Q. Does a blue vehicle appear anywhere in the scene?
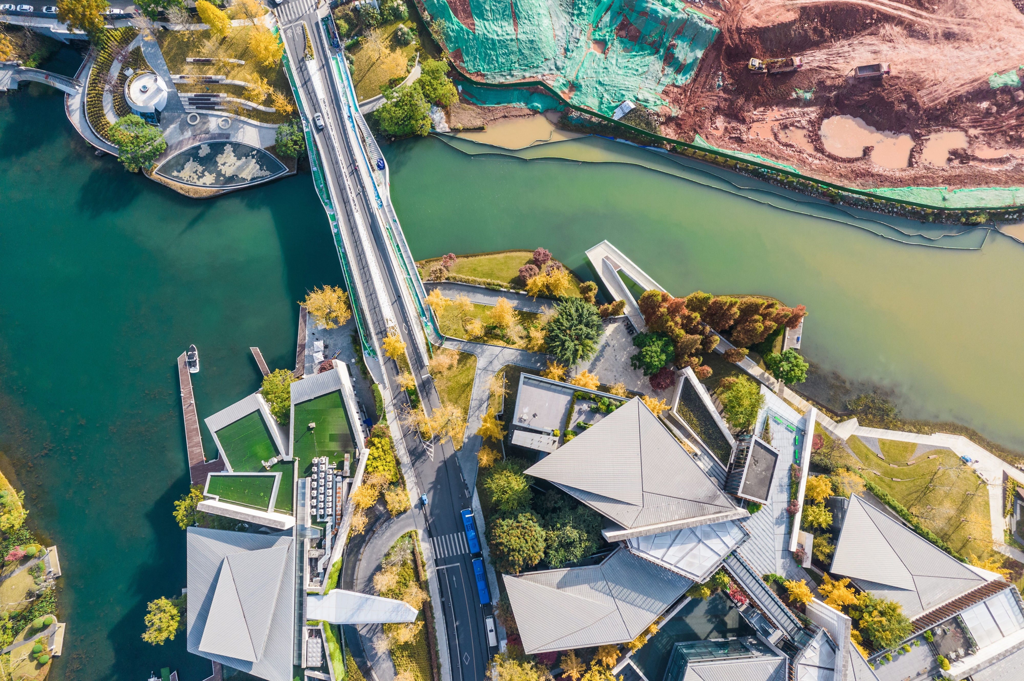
Yes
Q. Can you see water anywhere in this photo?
Yes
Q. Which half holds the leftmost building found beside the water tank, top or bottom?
bottom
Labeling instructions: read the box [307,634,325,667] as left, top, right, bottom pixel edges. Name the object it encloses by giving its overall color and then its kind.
white water tank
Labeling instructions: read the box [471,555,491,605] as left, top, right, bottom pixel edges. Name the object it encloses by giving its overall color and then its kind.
blue bus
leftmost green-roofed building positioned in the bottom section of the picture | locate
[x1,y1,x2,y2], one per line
[196,392,298,530]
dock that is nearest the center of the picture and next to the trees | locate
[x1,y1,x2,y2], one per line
[584,239,673,325]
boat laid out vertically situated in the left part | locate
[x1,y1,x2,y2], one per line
[186,345,199,373]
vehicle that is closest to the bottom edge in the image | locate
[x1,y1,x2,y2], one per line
[484,612,498,647]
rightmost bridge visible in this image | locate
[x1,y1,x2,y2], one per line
[274,0,440,389]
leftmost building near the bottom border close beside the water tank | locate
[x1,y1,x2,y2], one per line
[182,524,312,681]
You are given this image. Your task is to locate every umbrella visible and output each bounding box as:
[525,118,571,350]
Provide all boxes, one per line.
[313,351,324,363]
[313,340,325,352]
